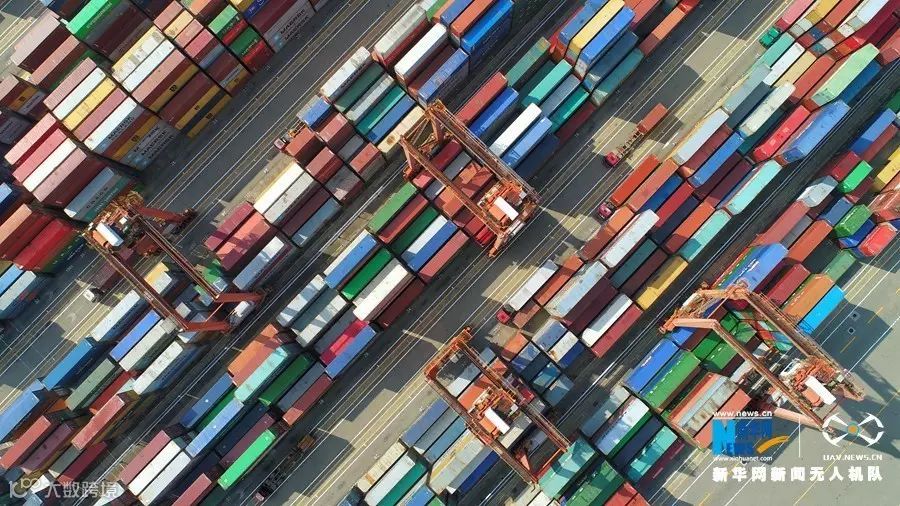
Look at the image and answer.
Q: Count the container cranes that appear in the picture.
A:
4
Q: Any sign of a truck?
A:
Yes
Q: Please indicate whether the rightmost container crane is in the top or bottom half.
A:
bottom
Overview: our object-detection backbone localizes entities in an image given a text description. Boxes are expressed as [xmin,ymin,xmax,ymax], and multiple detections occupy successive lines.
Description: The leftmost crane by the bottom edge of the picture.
[418,322,577,492]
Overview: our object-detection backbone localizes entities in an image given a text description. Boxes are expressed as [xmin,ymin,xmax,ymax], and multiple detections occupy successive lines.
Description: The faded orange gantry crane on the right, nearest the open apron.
[658,278,877,438]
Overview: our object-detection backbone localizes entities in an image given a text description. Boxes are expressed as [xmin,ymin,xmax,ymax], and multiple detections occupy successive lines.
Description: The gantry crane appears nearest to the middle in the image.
[395,98,551,257]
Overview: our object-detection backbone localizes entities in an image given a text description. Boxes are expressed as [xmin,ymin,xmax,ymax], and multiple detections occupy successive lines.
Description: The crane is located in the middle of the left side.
[84,191,273,339]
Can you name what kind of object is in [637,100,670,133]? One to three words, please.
shipping container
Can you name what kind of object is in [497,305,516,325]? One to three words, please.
vehicle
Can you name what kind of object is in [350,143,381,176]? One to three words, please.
shipping container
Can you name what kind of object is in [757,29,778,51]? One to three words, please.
truck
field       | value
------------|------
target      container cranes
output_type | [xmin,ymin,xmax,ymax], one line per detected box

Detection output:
[395,98,551,257]
[418,322,577,492]
[658,278,877,438]
[84,191,273,339]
